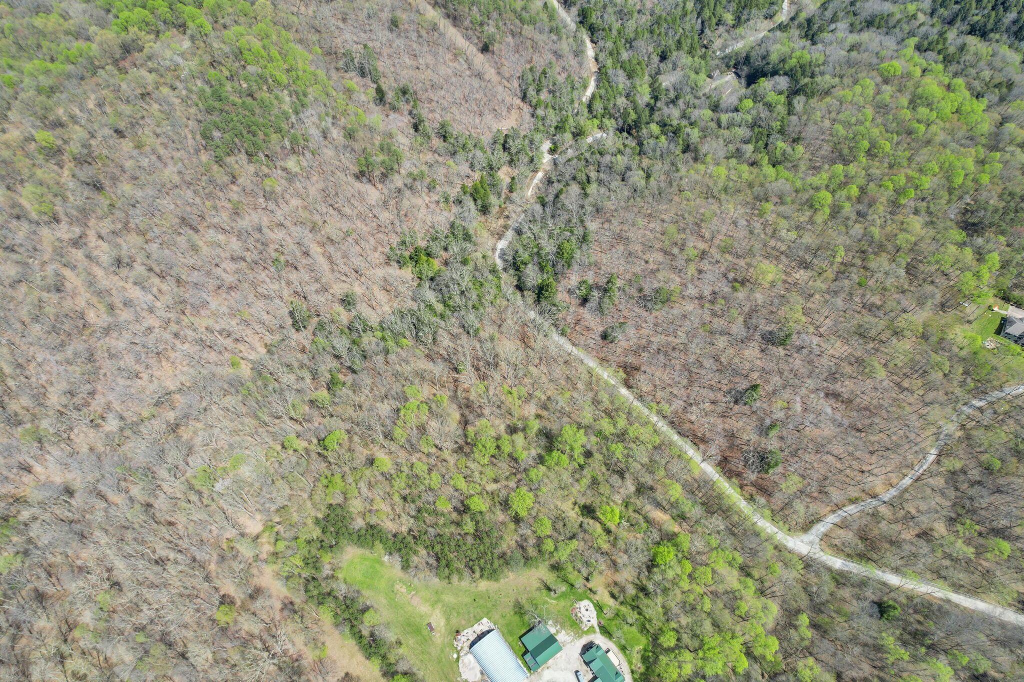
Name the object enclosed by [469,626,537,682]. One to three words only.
shed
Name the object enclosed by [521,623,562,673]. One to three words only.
barn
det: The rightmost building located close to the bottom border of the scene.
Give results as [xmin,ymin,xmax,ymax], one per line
[583,643,629,682]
